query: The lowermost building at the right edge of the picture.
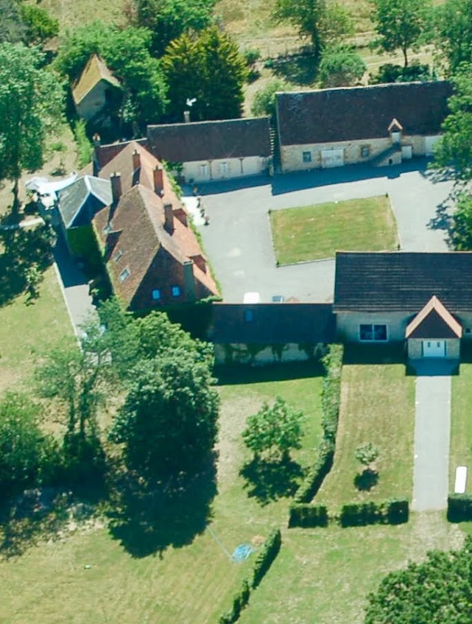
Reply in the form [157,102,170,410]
[334,249,472,358]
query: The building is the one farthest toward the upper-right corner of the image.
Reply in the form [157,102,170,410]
[274,81,456,175]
